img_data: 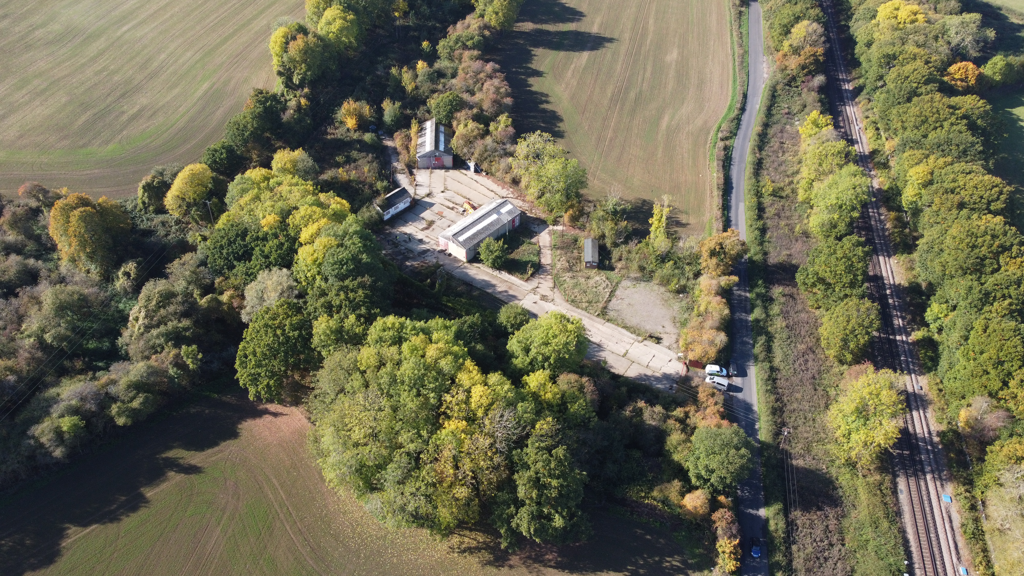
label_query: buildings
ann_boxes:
[416,116,454,169]
[438,198,523,261]
[369,188,412,221]
[583,238,599,270]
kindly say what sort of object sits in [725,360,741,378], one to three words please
car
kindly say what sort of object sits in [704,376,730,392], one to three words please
vehicle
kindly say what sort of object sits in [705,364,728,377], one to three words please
vehicle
